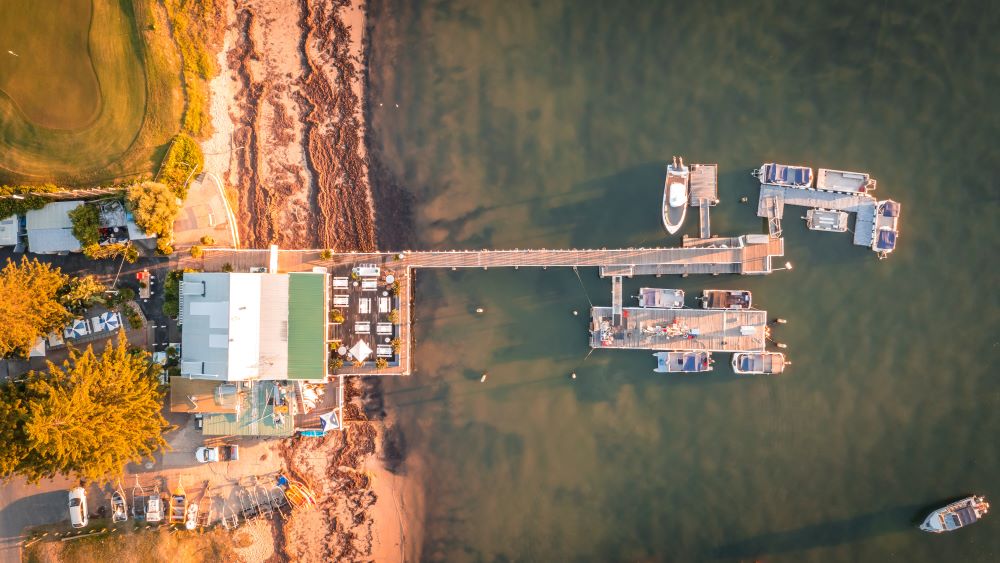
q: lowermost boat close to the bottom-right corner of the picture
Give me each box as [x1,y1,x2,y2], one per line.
[918,490,990,530]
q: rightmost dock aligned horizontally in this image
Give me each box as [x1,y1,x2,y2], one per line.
[757,183,879,248]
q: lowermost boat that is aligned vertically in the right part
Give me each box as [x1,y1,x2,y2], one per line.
[870,202,900,261]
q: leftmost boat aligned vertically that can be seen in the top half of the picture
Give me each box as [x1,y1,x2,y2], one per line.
[664,156,688,234]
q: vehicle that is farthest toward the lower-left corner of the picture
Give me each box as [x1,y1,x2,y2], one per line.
[67,486,93,528]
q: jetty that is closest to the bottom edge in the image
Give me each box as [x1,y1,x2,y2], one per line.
[590,307,768,352]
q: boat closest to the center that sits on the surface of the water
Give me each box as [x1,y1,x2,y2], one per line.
[631,288,685,308]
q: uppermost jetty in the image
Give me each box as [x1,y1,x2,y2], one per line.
[689,164,718,207]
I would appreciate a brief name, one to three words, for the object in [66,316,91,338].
umbrella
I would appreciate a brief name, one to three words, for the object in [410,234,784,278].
pier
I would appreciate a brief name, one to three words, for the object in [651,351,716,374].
boat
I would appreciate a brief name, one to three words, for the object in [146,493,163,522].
boat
